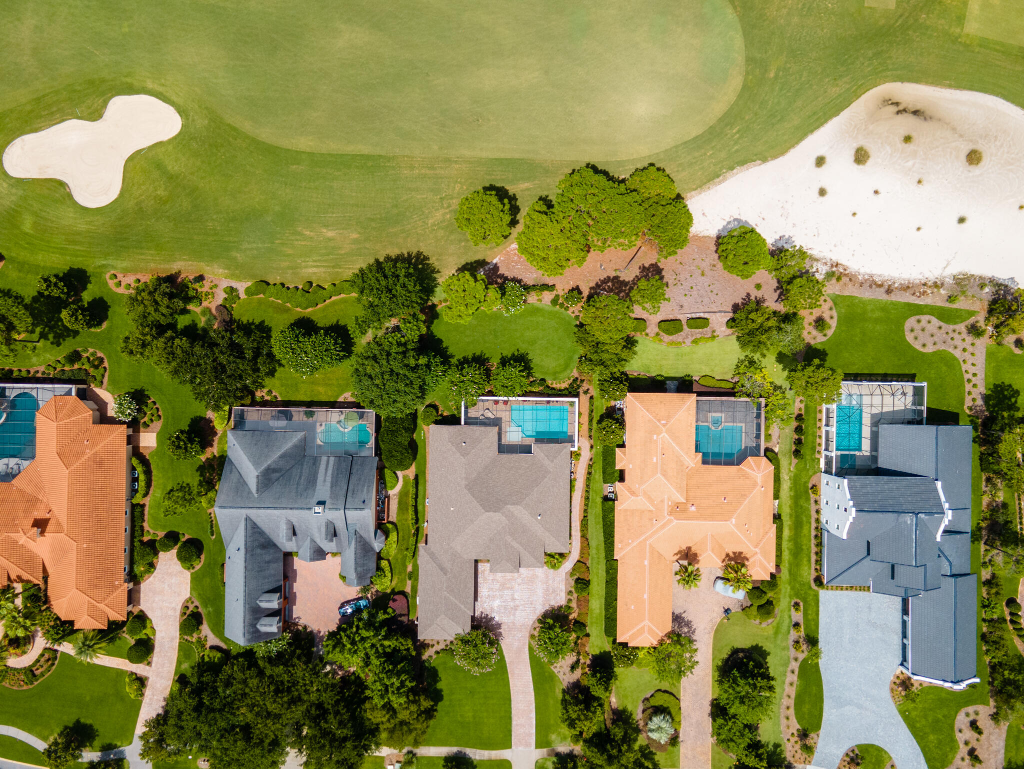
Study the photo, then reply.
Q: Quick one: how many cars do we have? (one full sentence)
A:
The number of cars here is 2.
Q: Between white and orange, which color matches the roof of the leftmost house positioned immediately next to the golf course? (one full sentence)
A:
The color of the roof of the leftmost house positioned immediately next to the golf course is orange.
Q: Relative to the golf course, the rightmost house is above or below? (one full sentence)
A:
It's below the golf course that the rightmost house shows up.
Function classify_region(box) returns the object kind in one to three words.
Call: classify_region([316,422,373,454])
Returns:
swimming pool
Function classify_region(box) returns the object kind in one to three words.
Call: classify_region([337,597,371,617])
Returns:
car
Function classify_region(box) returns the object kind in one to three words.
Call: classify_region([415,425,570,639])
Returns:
house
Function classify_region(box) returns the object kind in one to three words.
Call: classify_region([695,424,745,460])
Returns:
swimming pool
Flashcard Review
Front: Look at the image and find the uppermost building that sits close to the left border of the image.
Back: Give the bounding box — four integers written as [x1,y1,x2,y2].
[0,385,138,630]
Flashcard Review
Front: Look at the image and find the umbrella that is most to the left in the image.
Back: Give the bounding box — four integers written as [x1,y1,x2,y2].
[269,411,288,429]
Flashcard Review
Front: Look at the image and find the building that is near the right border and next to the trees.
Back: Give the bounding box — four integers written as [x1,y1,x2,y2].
[818,424,981,690]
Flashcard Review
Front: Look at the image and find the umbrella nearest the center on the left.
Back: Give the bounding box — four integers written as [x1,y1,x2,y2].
[344,410,360,426]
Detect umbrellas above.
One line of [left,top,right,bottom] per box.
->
[344,410,360,426]
[269,411,288,429]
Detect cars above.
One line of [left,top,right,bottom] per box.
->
[711,577,746,599]
[337,597,371,617]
